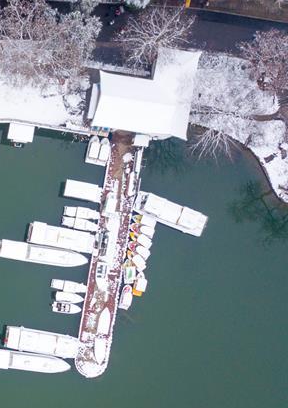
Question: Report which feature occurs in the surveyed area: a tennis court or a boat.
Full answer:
Looking from above, you can make out a boat.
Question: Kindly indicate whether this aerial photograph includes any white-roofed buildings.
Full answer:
Yes, a white-roofed building is visible in the scene.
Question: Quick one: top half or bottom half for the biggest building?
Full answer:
Seen from above, the biggest building lies in the top half of the view.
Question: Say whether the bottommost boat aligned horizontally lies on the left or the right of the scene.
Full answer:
The bottommost boat aligned horizontally is on the left side of the image.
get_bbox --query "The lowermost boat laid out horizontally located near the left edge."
[0,347,70,370]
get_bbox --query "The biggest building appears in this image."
[93,47,202,140]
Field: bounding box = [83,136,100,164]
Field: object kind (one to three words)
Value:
boat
